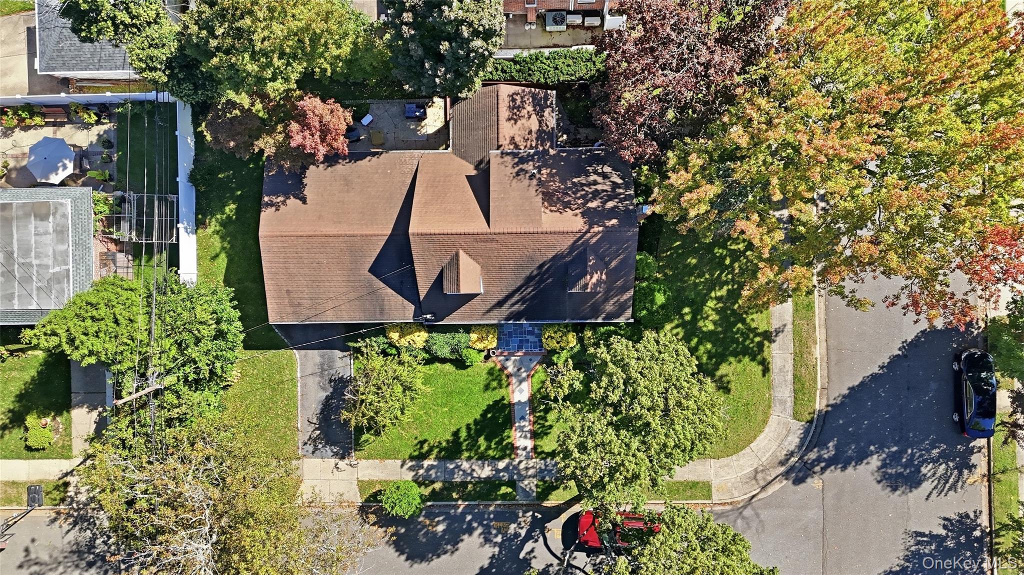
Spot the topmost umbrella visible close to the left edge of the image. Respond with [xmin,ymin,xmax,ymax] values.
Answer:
[29,135,88,187]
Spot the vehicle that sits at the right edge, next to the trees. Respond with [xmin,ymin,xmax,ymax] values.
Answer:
[950,349,996,439]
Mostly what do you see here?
trees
